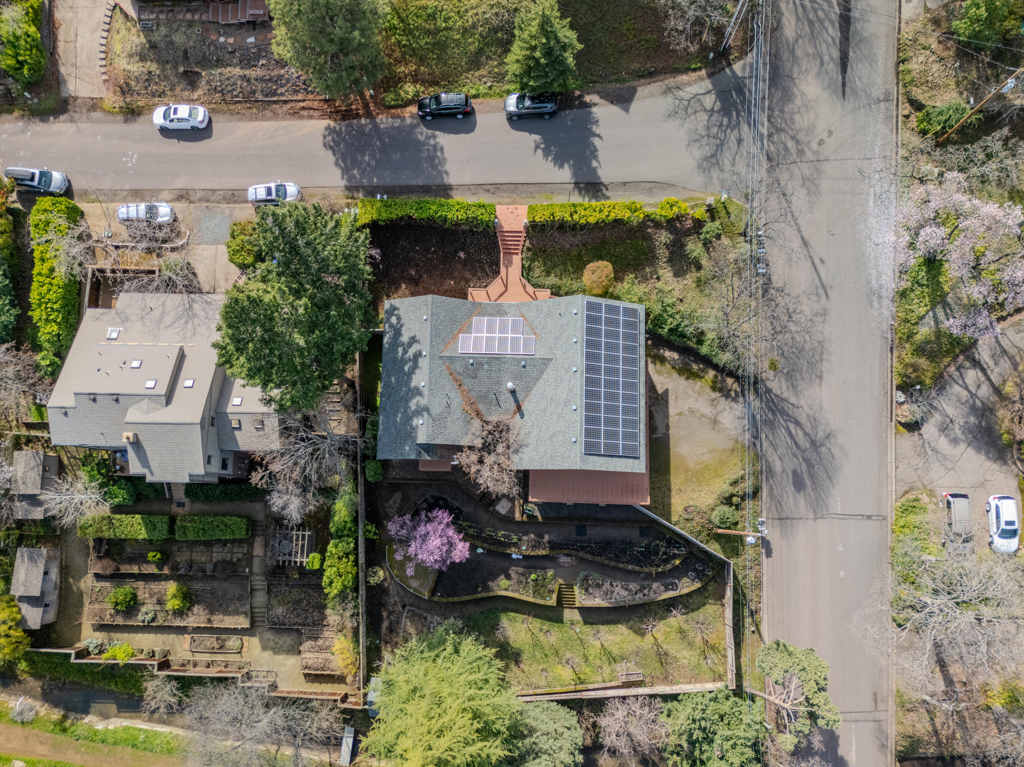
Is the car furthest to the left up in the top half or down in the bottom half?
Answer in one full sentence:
Seen from above, the car furthest to the left lies in the top half of the view.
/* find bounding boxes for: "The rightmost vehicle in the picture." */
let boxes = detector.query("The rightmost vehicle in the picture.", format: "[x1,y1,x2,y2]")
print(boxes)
[985,496,1021,554]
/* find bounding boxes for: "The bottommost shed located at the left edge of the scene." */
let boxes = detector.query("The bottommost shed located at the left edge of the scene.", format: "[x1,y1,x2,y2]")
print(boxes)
[10,548,66,629]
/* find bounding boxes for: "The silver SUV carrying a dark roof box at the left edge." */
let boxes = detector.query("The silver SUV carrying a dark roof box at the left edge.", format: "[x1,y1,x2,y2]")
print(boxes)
[0,166,70,199]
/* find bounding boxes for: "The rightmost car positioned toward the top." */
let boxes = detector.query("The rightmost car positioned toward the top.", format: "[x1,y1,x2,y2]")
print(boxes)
[503,96,559,126]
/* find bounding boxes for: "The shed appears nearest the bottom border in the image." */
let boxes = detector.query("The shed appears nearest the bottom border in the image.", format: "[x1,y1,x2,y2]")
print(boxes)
[367,674,389,717]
